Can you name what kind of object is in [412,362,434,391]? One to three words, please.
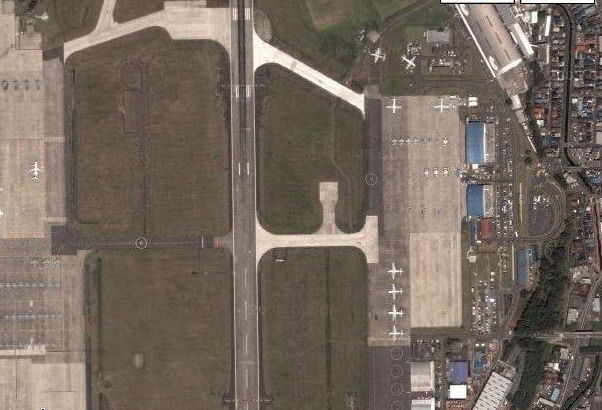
hangar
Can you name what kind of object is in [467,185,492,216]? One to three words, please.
hangar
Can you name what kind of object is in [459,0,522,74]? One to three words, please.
building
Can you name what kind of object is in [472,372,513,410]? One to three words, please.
building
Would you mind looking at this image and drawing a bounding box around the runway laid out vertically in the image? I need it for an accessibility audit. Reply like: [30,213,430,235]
[221,0,271,410]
